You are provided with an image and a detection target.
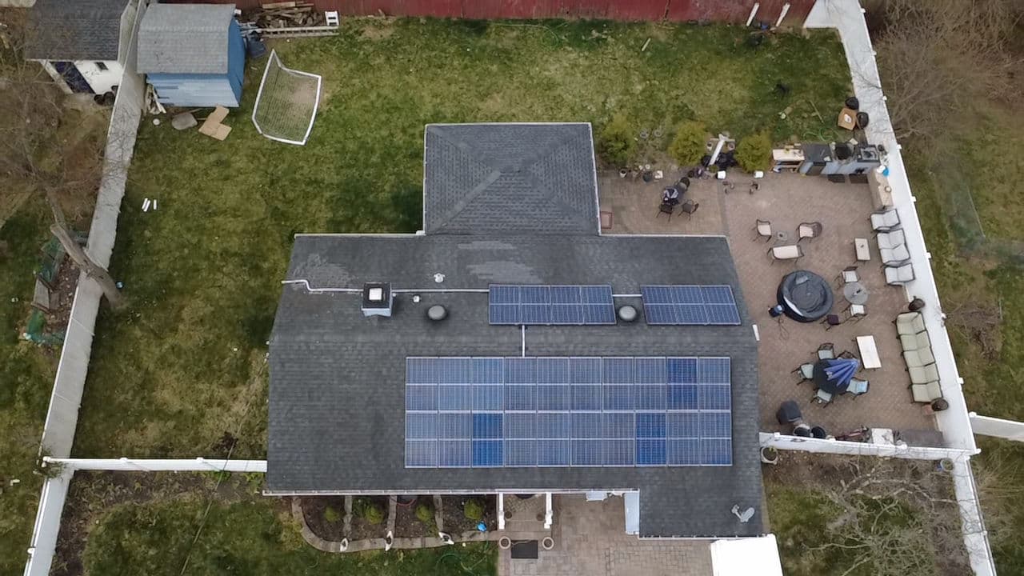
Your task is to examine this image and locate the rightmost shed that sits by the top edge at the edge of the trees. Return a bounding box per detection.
[140,6,249,106]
